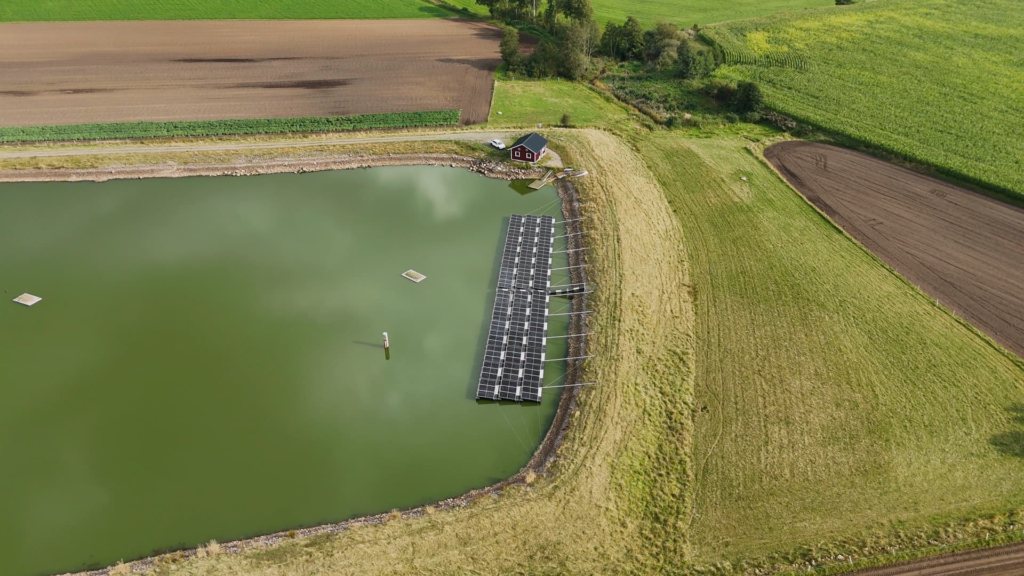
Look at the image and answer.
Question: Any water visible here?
Yes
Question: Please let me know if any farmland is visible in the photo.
Yes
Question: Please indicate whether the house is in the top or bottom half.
top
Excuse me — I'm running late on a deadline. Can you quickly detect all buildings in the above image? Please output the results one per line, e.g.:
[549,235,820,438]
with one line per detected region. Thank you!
[509,135,543,163]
